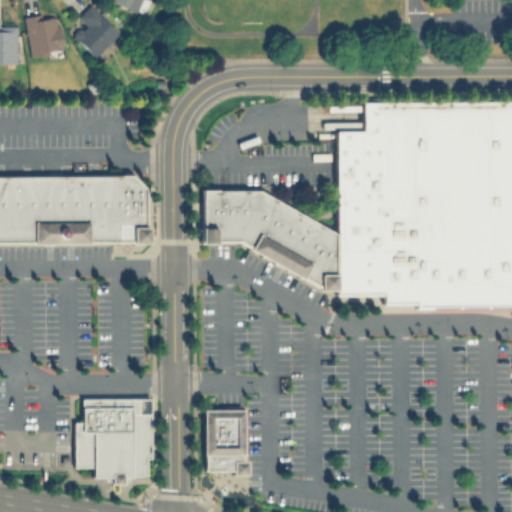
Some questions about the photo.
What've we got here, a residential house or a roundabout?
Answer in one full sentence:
It is a residential house that can be seen here.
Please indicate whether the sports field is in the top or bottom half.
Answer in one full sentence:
The top half of the photo is where the sports field is.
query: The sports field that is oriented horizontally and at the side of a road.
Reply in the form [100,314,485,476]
[176,0,404,51]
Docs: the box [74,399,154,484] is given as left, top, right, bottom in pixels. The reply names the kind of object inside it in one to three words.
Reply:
building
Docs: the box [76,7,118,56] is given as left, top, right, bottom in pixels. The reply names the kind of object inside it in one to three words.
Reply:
house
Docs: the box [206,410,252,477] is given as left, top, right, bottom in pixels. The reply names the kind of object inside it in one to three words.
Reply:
building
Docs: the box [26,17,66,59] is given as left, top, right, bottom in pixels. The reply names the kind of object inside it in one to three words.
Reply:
house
